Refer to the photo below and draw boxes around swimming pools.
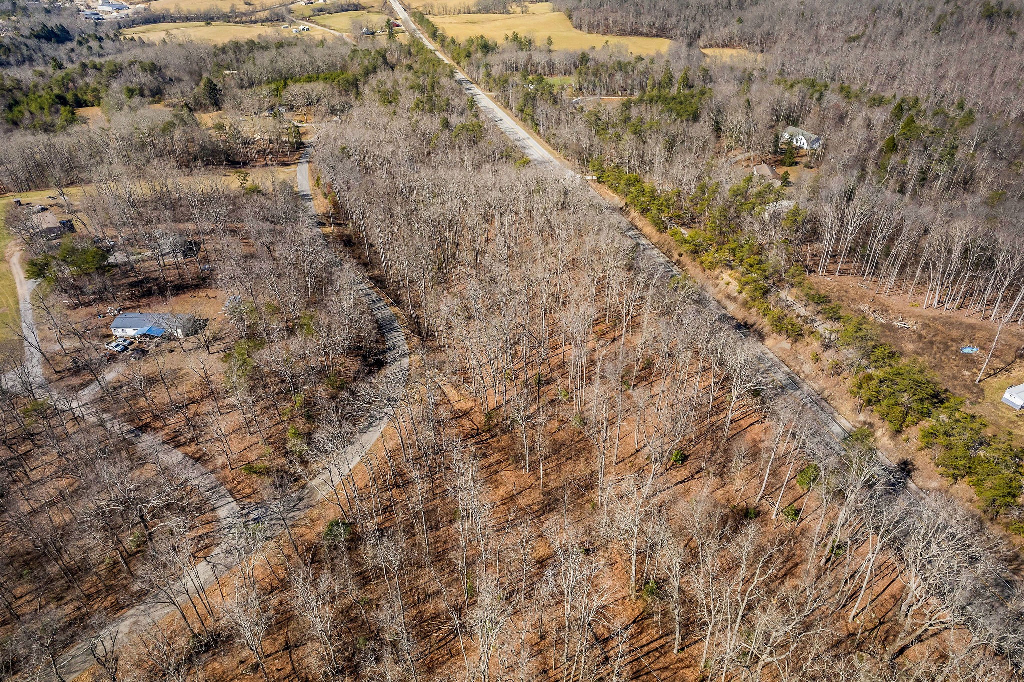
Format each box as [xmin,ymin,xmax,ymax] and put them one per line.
[960,343,983,355]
